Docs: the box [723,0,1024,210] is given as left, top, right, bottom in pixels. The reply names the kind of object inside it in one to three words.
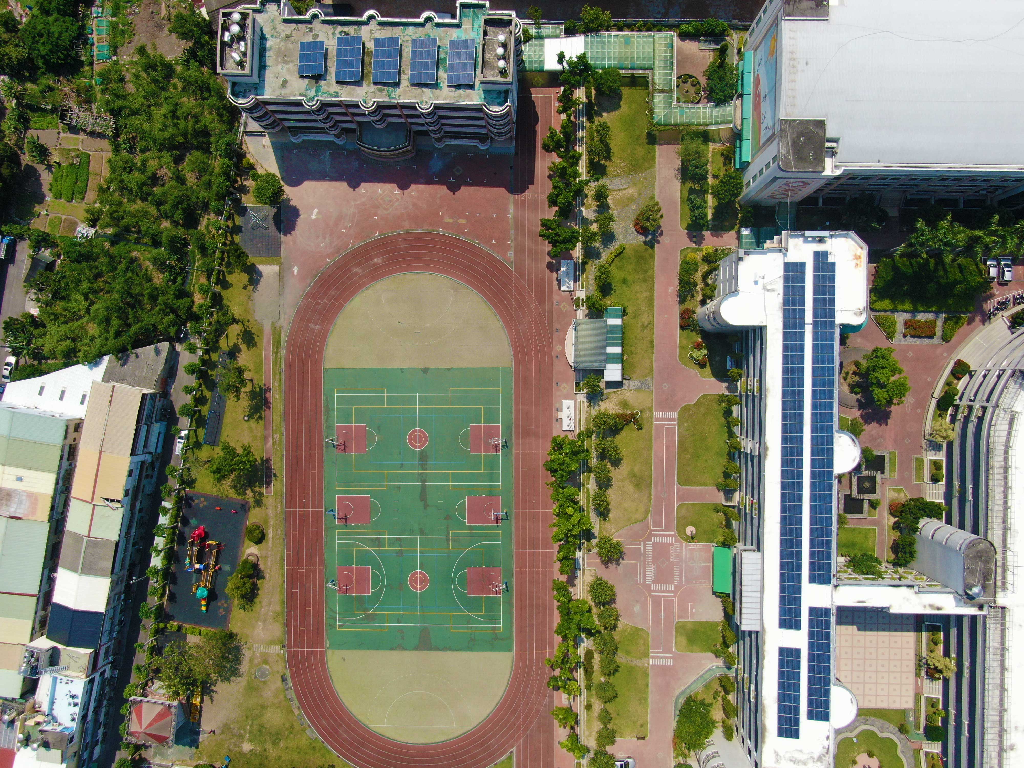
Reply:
building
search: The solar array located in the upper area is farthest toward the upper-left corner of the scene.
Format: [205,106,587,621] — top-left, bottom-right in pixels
[298,40,325,77]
